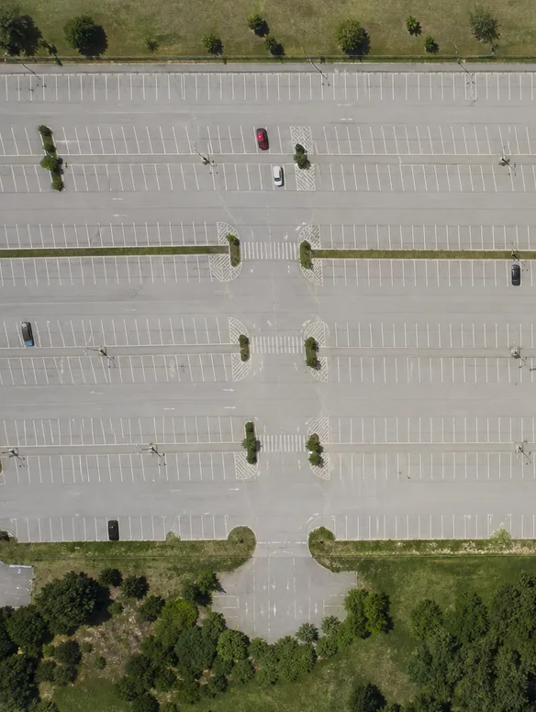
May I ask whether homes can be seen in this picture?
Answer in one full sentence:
No, I can't see a single home in this photo.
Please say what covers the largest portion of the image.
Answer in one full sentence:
The bulk of the photo consists of paved ground.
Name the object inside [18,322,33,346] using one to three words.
car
